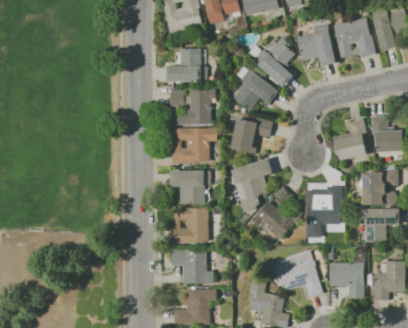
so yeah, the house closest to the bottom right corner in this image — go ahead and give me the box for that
[367,261,406,300]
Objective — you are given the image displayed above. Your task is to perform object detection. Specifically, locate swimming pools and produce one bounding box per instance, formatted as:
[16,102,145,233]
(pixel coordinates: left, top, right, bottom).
[236,33,260,46]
